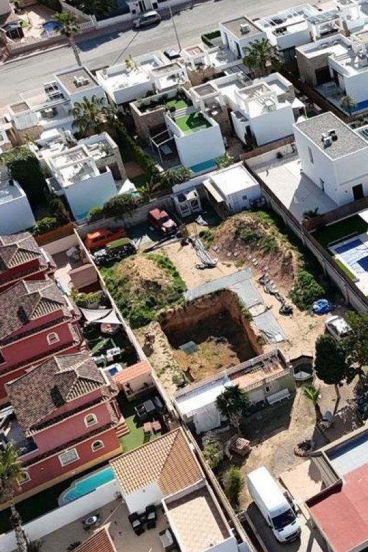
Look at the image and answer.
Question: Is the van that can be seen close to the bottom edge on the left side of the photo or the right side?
right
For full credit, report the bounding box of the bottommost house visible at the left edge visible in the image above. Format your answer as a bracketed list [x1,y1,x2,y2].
[0,367,99,511]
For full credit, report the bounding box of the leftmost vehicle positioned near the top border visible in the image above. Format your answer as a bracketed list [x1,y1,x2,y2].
[129,7,165,29]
